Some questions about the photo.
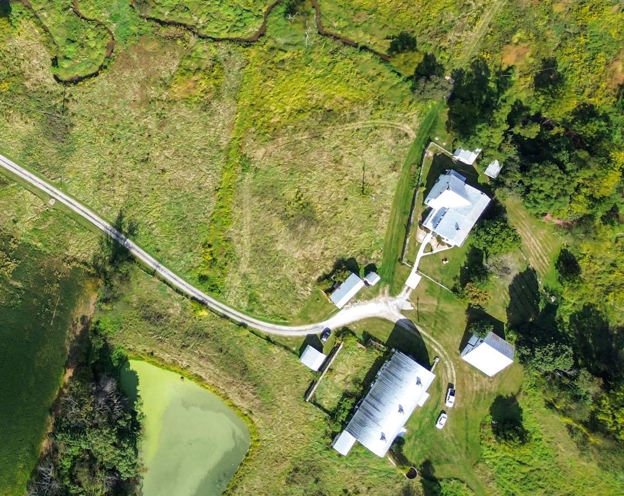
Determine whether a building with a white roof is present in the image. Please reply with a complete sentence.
Yes, there's a building with a white roof here.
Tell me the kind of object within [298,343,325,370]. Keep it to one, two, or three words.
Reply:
shed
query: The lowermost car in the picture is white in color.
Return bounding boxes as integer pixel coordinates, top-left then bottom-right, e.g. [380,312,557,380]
[435,411,450,433]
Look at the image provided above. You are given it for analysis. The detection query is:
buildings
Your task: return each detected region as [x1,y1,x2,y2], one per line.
[458,326,515,376]
[414,168,491,249]
[332,347,435,455]
[328,273,364,307]
[362,271,379,287]
[451,145,479,166]
[298,343,325,370]
[481,161,498,177]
